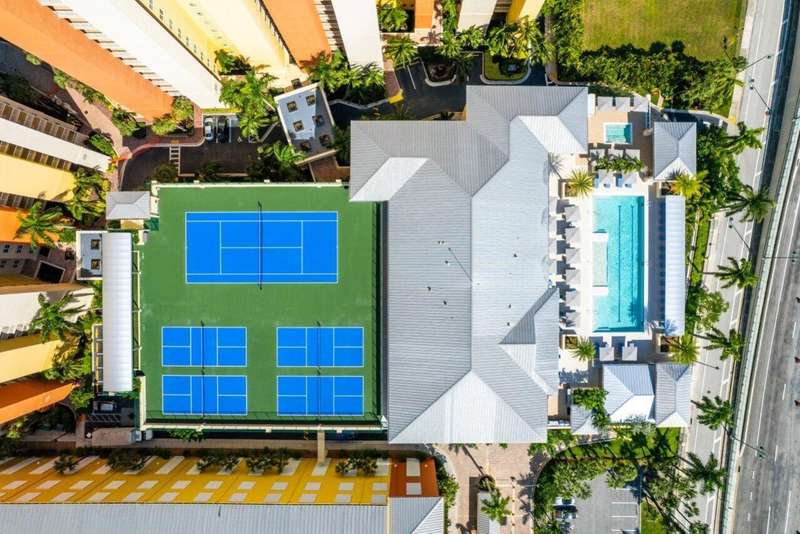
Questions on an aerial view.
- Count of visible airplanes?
0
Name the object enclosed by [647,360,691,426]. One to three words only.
building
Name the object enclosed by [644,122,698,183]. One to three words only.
building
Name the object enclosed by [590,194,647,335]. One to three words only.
swimming pool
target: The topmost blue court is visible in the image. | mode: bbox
[186,203,338,292]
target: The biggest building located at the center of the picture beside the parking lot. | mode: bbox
[351,86,588,443]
